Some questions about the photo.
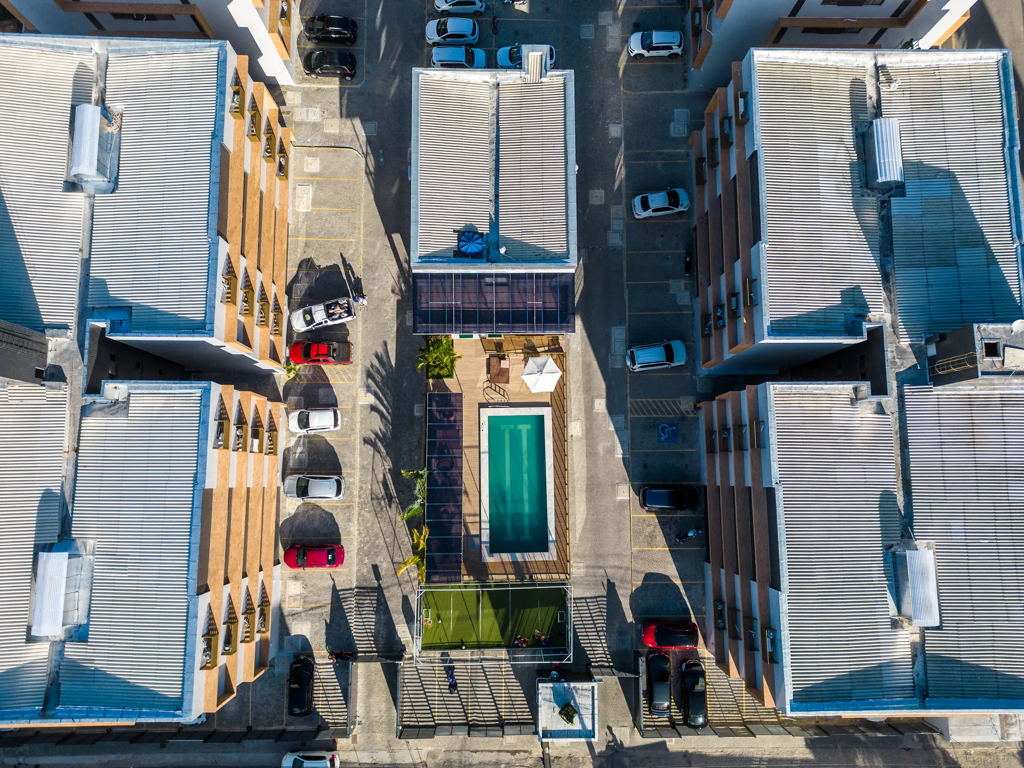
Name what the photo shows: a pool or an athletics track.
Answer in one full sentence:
It is a pool that can be seen here.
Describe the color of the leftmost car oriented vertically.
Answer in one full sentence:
The color of the leftmost car oriented vertically is black.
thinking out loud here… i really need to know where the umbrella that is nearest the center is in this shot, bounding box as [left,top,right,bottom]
[521,357,563,393]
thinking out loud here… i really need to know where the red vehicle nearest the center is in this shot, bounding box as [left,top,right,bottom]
[289,338,355,367]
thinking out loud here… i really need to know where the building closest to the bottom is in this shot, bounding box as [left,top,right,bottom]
[538,673,597,742]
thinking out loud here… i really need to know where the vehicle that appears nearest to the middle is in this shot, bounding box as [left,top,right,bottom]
[625,339,684,371]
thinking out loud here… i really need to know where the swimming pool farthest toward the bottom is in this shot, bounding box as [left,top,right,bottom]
[480,407,555,562]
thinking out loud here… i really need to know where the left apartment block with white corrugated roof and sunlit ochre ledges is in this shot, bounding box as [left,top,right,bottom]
[0,42,295,724]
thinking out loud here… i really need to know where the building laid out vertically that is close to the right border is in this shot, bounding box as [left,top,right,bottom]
[689,44,1024,719]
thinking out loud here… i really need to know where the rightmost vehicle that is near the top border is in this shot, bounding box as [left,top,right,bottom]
[628,29,684,60]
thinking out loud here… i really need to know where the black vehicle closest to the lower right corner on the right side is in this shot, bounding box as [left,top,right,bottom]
[678,657,709,726]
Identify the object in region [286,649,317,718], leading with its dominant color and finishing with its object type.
black car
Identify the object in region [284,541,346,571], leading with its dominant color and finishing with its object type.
red car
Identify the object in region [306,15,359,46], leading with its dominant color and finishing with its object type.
black car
